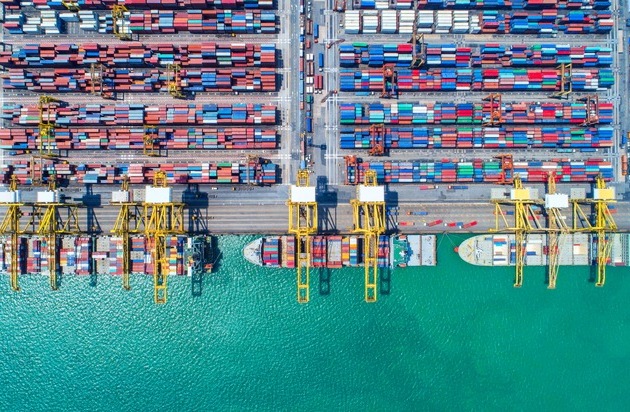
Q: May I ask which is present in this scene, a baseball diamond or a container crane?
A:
container crane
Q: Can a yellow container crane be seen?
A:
Yes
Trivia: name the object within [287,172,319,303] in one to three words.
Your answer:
container crane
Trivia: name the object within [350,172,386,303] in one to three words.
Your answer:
container crane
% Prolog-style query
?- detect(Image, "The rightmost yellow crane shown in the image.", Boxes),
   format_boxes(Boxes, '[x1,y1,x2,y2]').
[564,172,618,290]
